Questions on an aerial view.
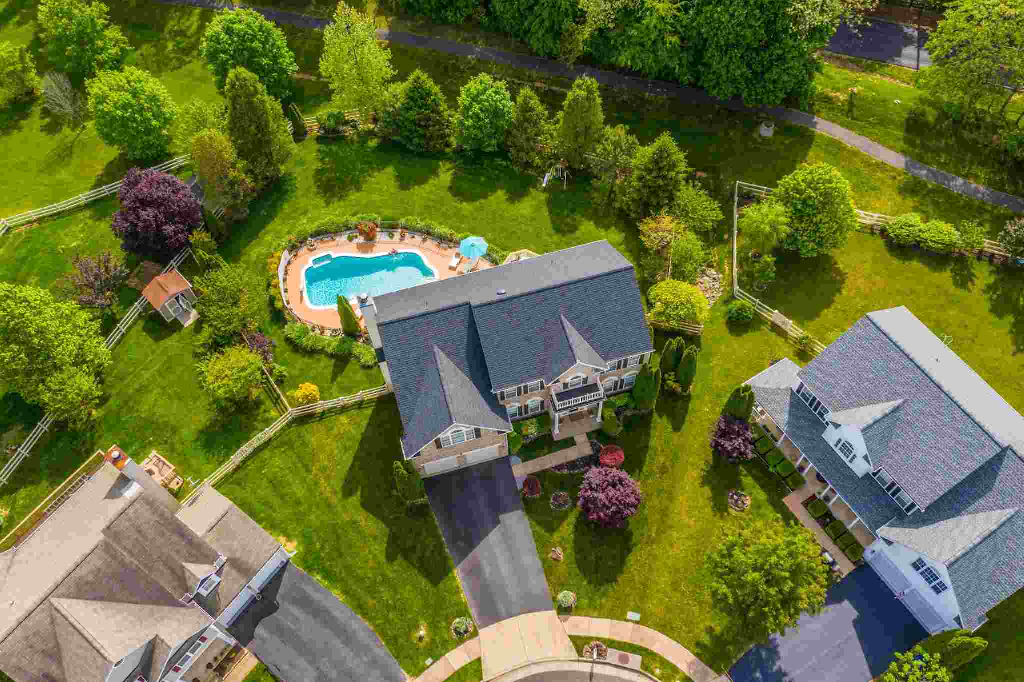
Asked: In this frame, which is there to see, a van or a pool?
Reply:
pool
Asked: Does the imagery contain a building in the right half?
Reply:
Yes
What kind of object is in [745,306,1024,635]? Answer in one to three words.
house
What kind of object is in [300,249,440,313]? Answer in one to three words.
swimming pool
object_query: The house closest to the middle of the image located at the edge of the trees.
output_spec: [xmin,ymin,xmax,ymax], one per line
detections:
[359,237,658,477]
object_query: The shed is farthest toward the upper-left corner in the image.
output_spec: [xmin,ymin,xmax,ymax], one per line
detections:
[138,270,194,325]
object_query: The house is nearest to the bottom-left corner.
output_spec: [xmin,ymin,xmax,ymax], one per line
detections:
[0,444,289,682]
